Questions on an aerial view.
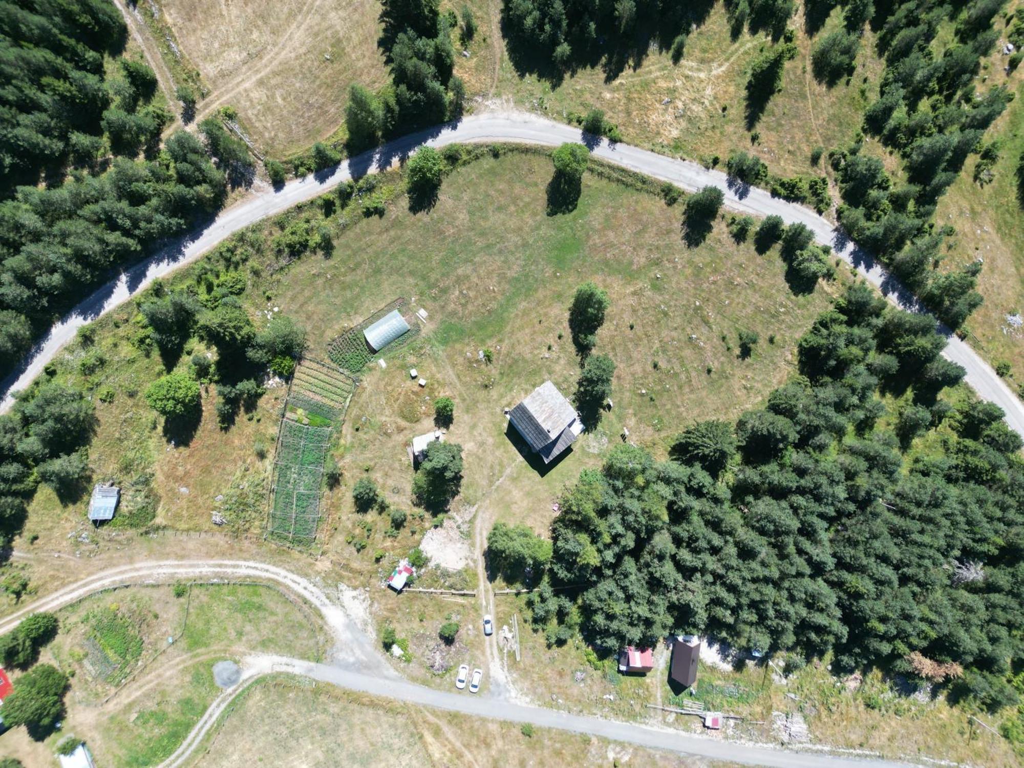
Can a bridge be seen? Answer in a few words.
No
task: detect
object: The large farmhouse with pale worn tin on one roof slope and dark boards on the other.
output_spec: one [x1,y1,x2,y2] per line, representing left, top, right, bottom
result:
[508,381,584,463]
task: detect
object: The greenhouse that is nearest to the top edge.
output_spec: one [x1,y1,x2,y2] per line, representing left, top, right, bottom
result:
[363,309,410,353]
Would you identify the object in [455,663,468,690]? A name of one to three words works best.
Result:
vehicle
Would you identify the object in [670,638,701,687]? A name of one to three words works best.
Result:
house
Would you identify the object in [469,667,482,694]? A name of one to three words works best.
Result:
vehicle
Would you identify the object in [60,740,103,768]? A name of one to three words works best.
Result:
shed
